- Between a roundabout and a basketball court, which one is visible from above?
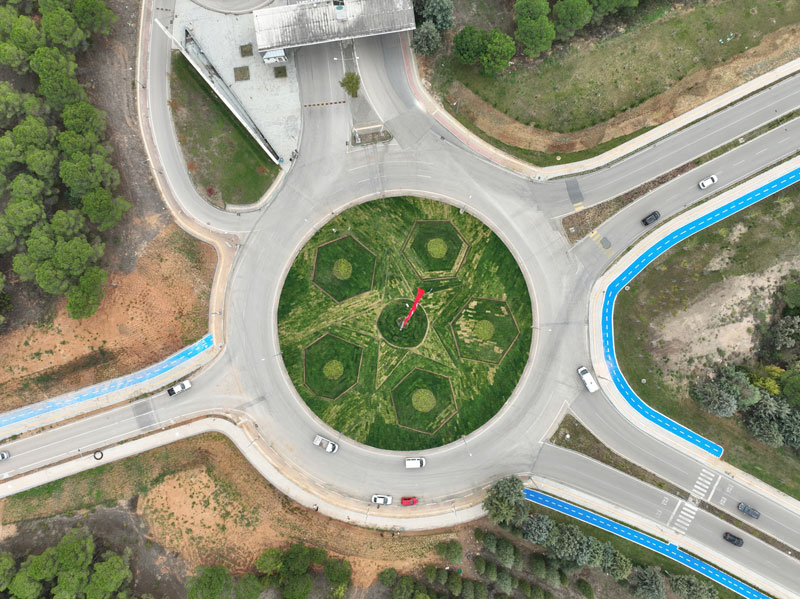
roundabout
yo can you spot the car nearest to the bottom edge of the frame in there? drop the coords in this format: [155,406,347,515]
[722,530,743,545]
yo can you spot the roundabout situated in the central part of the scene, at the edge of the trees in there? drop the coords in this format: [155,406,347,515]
[221,137,589,506]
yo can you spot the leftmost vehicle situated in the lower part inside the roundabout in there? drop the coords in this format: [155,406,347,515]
[312,433,339,452]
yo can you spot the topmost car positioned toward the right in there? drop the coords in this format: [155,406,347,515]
[697,175,718,190]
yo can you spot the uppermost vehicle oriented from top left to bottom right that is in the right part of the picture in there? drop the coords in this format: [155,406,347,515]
[577,366,599,393]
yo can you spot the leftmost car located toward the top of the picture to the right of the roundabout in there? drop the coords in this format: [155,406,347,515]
[640,210,660,226]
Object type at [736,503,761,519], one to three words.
vehicle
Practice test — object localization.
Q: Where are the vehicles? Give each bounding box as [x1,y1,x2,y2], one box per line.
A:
[401,495,418,505]
[697,175,718,190]
[312,433,339,452]
[640,210,660,226]
[722,530,743,545]
[371,494,392,503]
[166,378,192,396]
[736,503,761,519]
[405,457,425,468]
[577,366,599,393]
